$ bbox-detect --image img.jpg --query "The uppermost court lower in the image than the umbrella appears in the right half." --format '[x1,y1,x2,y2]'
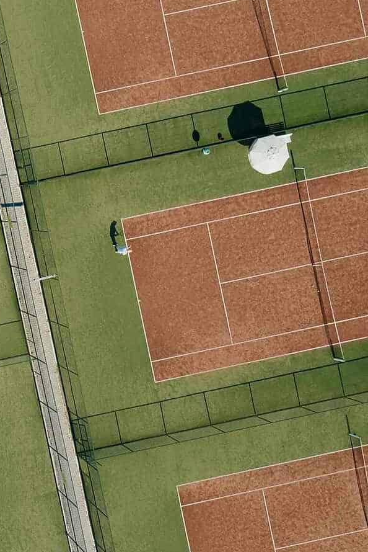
[122,169,368,383]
